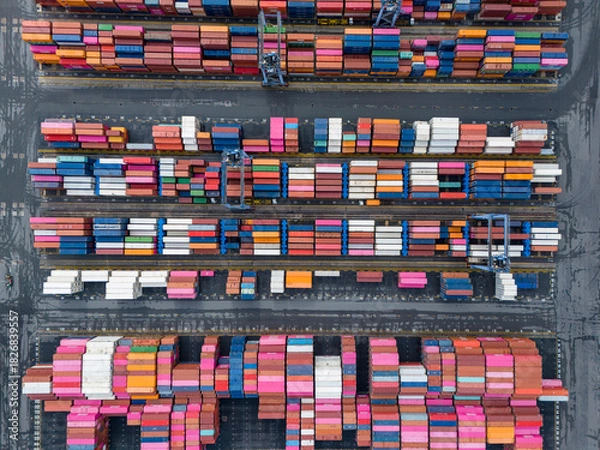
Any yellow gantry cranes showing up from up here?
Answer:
No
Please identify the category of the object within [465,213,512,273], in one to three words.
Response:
container crane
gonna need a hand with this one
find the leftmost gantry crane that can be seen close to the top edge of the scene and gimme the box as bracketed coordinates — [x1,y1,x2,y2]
[258,6,288,88]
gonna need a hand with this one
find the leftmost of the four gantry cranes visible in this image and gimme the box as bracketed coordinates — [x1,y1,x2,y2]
[221,147,254,212]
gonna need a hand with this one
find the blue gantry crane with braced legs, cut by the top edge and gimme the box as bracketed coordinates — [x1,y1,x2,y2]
[370,0,405,29]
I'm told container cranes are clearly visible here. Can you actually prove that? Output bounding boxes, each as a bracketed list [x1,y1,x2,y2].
[370,0,405,29]
[465,213,512,273]
[221,147,254,212]
[258,6,288,88]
